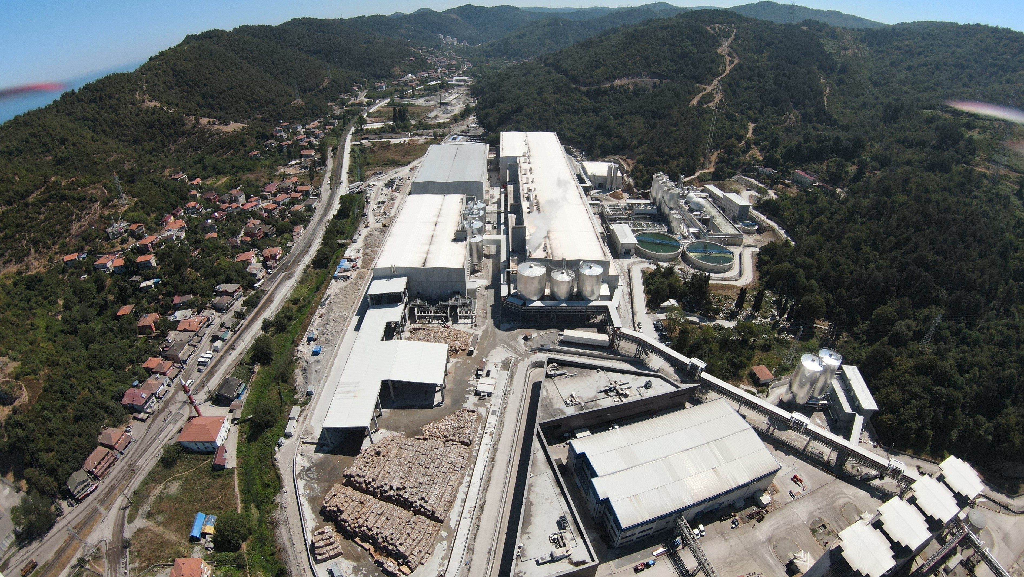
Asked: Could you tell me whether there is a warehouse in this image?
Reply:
Yes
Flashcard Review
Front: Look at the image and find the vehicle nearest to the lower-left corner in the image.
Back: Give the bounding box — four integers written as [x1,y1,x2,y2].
[16,556,35,575]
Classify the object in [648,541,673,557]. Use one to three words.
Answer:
vehicle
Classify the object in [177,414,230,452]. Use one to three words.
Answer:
building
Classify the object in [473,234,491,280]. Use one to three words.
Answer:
silo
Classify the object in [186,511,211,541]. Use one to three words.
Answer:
shed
